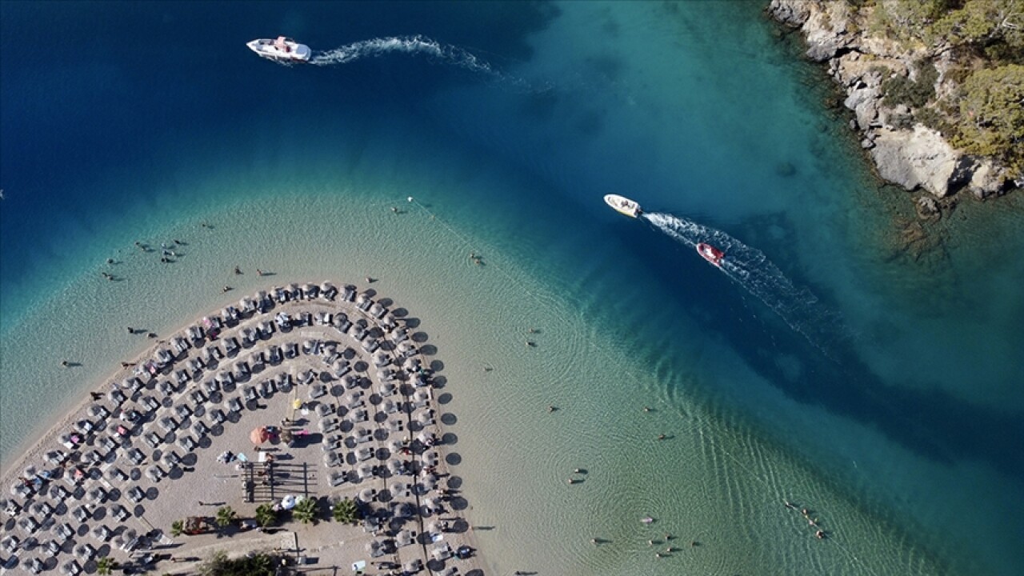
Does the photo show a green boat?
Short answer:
No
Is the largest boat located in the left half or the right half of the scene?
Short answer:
left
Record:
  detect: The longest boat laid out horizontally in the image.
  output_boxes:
[248,39,313,61]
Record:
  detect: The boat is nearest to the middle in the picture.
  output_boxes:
[604,196,642,217]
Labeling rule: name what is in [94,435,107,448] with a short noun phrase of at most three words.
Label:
umbrella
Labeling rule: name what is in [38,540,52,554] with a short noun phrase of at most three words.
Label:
umbrella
